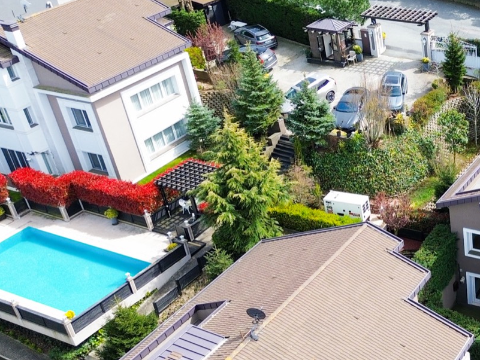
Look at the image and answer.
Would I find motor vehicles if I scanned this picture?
Yes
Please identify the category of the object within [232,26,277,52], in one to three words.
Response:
car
